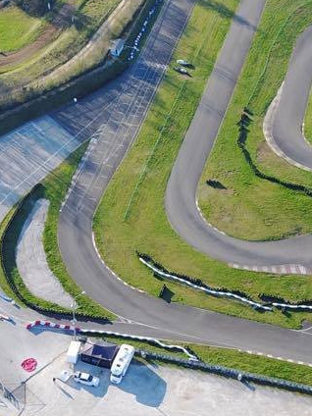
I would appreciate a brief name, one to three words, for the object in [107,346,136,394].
camper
